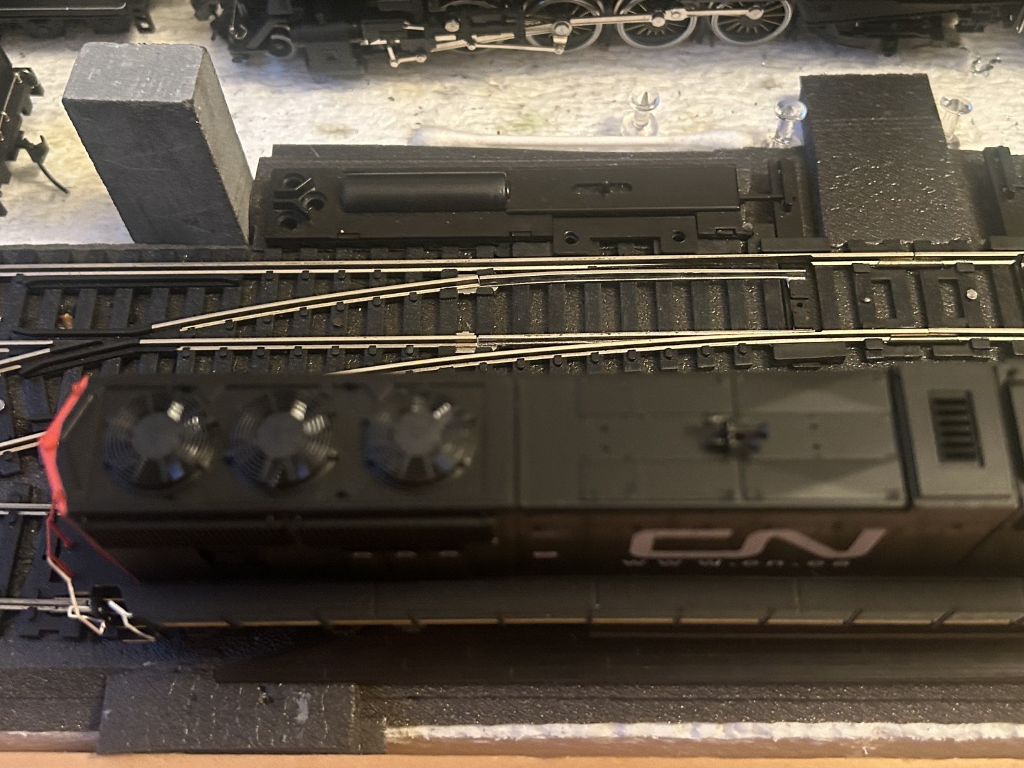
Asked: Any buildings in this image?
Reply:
No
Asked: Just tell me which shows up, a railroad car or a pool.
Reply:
railroad car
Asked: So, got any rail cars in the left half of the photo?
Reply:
Yes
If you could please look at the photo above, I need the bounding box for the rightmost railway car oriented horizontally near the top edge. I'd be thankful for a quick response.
[175,0,990,86]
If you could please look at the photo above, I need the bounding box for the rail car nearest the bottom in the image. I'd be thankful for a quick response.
[35,360,1024,659]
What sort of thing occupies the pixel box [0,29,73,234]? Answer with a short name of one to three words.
rail car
